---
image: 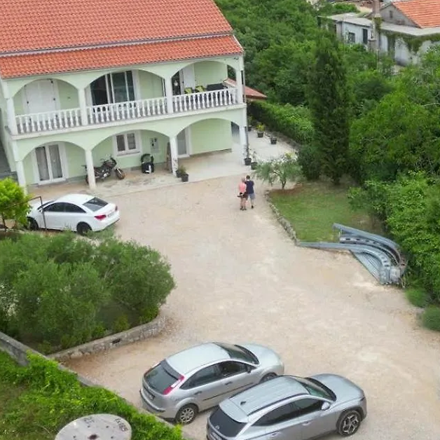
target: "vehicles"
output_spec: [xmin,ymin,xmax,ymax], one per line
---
[141,336,290,424]
[210,371,375,440]
[15,193,125,238]
[93,151,130,177]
